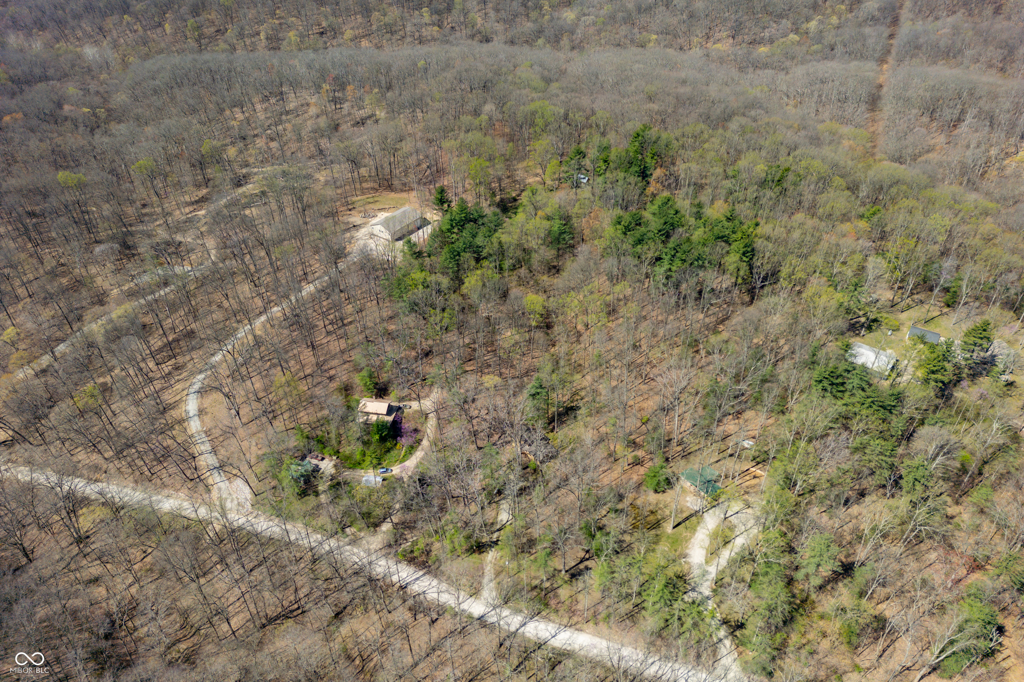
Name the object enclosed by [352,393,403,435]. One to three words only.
house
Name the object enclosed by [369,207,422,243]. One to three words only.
barn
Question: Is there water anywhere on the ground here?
No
